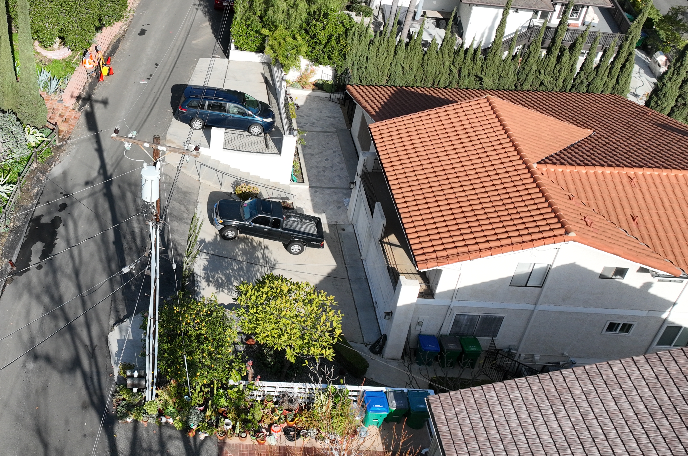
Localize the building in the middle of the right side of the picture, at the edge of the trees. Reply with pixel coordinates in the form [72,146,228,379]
[336,83,688,368]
